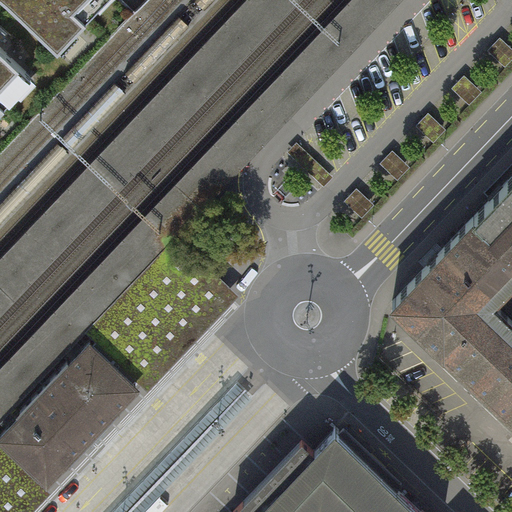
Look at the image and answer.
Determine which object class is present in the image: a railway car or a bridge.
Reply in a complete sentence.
The one in the frame is a railway car.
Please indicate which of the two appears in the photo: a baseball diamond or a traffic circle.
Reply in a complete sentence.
There is a traffic circle in the scene.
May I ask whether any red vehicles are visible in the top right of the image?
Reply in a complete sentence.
Yes, the scene does show a red vehicle in the top right of the image.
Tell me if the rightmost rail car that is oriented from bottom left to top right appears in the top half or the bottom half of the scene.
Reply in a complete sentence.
The top half of the photo is where the rightmost rail car that is oriented from bottom left to top right is.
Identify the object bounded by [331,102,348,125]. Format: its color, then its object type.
white car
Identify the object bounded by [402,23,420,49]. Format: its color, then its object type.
white vehicle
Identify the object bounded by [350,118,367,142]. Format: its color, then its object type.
white car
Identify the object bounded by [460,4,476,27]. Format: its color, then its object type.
red car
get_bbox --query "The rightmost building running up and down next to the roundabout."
[389,164,512,432]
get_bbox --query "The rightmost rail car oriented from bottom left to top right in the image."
[125,17,191,86]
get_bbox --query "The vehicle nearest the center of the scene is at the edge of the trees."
[236,266,259,290]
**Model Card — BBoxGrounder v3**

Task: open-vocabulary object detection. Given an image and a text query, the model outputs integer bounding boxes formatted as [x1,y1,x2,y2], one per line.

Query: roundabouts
[244,253,376,398]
